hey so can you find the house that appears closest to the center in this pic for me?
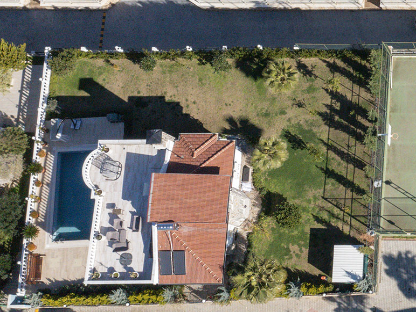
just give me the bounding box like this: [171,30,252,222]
[78,129,253,287]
